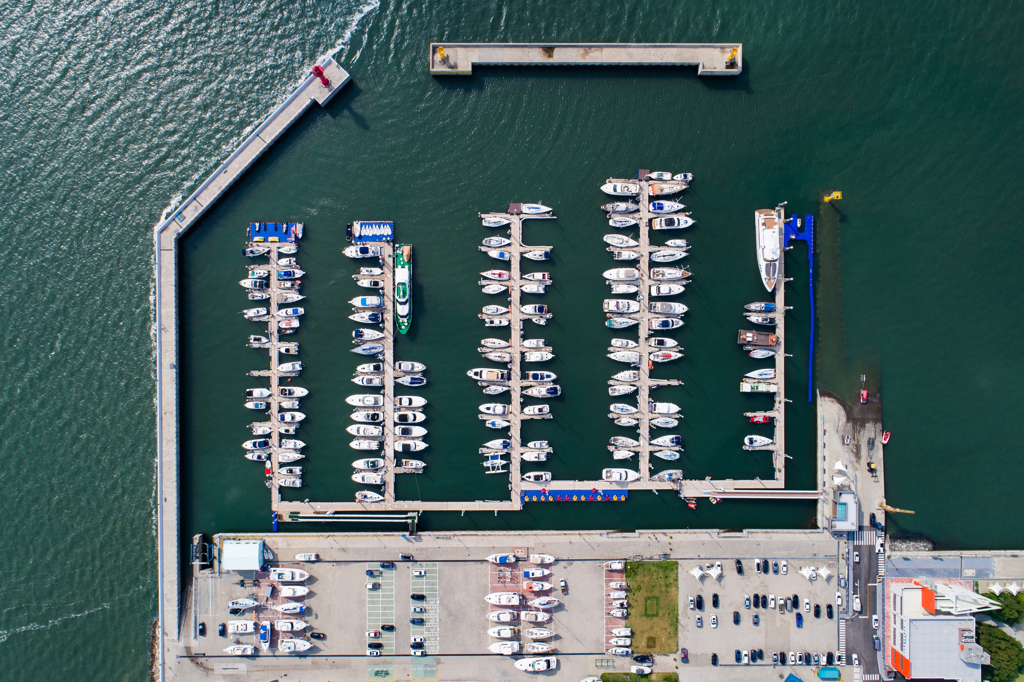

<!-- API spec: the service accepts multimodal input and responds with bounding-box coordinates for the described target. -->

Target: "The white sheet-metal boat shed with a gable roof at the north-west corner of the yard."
[219,541,263,570]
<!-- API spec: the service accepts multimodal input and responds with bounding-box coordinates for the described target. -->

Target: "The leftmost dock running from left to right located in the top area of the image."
[250,222,298,242]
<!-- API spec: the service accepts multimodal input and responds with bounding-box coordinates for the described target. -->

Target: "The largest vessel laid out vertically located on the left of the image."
[389,243,412,334]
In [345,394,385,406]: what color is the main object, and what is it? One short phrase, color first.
white boat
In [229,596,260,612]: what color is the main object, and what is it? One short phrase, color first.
white boat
